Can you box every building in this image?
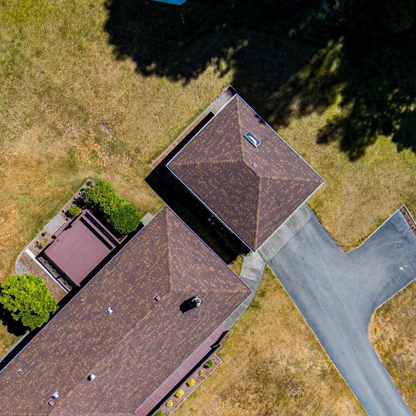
[165,94,324,253]
[0,205,254,416]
